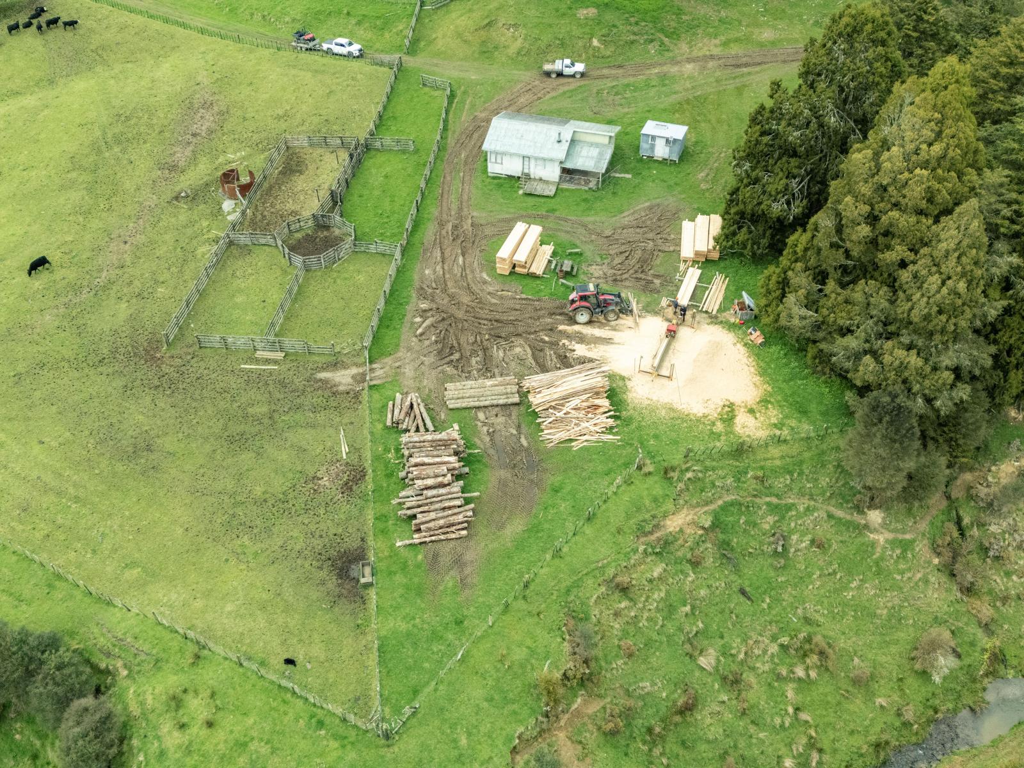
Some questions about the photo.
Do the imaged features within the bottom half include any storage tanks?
No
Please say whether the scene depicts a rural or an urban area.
rural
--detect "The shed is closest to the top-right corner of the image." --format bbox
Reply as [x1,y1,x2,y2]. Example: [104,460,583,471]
[642,118,685,160]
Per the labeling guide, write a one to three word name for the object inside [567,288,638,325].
work vehicle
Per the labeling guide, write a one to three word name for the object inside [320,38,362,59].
truck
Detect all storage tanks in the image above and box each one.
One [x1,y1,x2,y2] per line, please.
[216,170,255,200]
